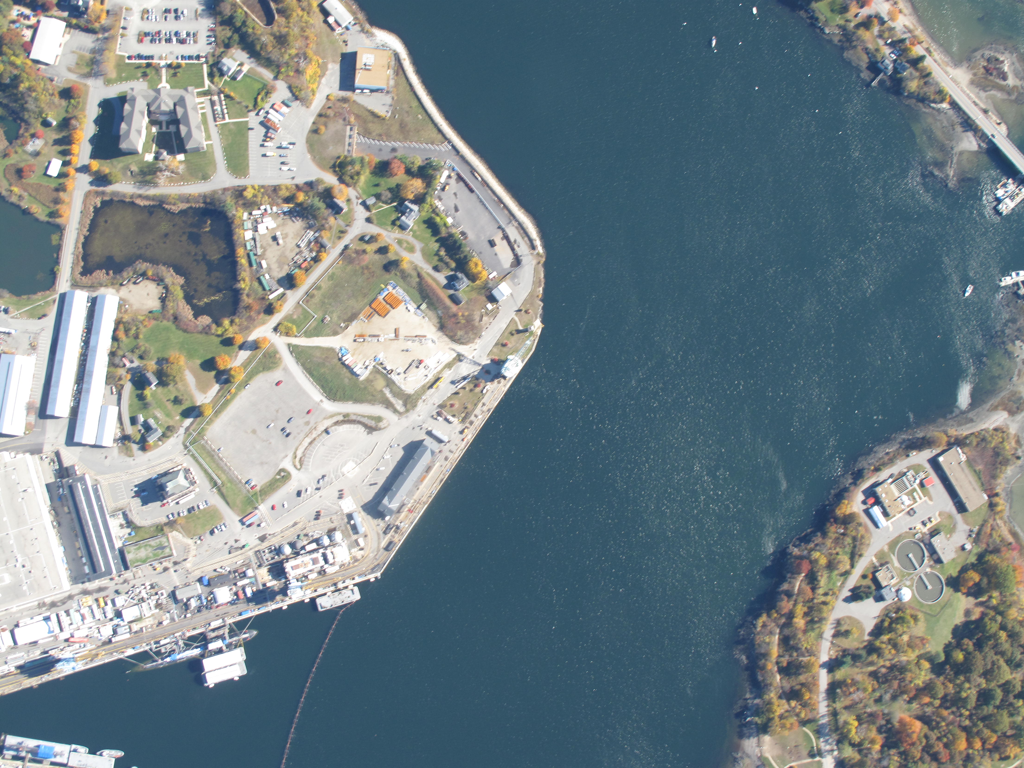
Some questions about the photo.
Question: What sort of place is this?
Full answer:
What you see here is a port.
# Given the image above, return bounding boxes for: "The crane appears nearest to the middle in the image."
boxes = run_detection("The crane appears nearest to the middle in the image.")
[497,325,543,383]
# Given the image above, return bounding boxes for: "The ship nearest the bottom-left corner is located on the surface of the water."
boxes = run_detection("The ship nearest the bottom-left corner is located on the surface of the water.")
[3,735,72,765]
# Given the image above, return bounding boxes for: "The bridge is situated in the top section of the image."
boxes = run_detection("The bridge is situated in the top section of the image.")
[931,68,1024,178]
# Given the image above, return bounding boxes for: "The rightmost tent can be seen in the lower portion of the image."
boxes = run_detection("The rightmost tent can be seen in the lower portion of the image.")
[213,581,235,604]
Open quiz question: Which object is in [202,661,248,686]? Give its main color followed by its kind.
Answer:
white ship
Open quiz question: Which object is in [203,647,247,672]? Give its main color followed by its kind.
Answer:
white ship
